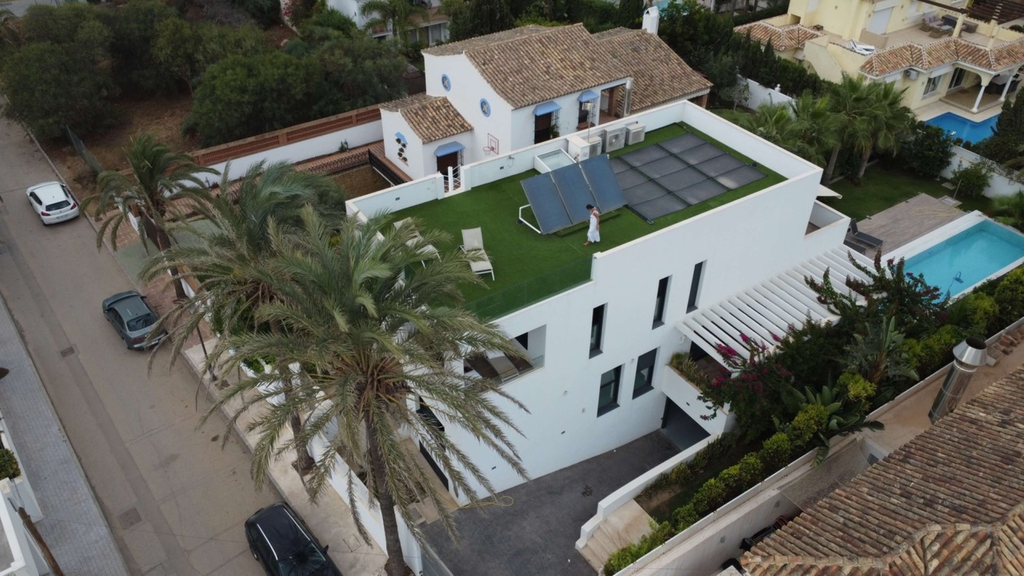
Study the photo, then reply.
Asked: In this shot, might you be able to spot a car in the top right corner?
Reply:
No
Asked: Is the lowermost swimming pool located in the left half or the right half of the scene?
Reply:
right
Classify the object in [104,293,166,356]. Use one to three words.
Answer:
car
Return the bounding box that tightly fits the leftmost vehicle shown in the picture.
[25,185,77,227]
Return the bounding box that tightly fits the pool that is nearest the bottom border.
[873,209,1024,296]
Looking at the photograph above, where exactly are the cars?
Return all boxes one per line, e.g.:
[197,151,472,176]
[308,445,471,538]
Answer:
[104,293,166,356]
[25,185,77,227]
[248,503,350,576]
